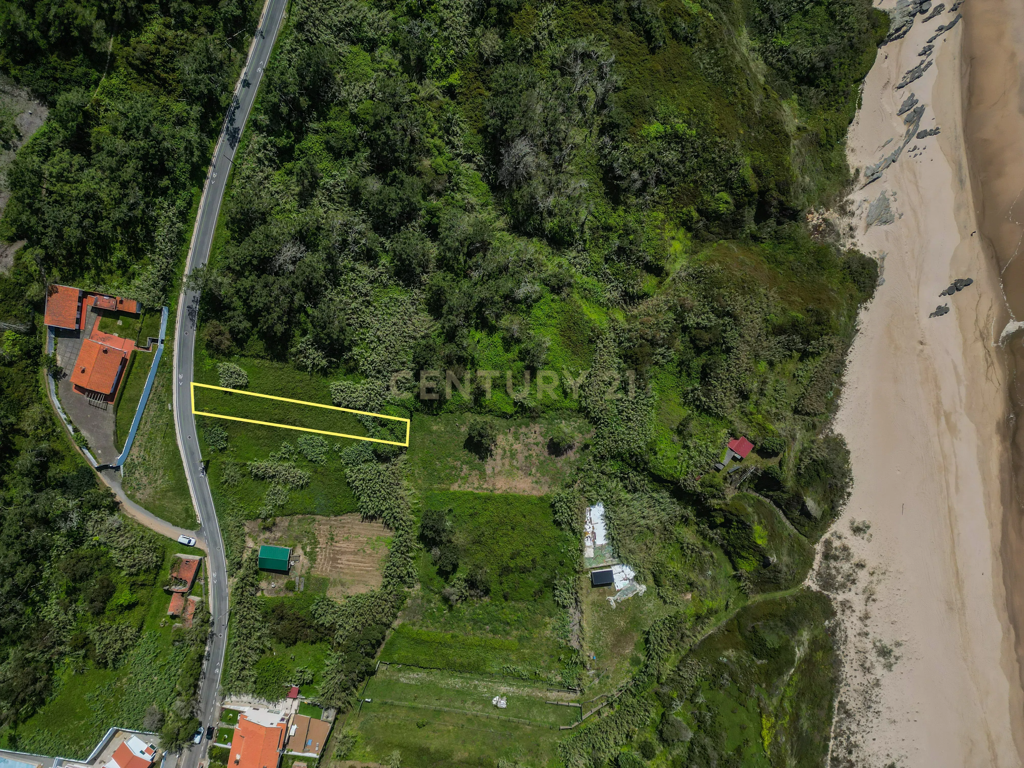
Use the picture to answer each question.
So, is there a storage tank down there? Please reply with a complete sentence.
No, the picture doesn't show any storage tank.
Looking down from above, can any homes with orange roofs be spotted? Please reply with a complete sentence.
Yes, there is a home with an orange roof in the image.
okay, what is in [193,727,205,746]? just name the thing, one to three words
vehicle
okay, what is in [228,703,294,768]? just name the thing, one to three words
house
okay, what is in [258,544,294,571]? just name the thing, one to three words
shed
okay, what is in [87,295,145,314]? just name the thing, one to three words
building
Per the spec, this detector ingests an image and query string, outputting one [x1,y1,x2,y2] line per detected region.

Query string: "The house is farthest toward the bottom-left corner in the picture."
[103,733,161,768]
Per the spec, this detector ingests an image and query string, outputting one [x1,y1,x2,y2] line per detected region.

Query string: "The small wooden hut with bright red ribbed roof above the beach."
[728,436,754,458]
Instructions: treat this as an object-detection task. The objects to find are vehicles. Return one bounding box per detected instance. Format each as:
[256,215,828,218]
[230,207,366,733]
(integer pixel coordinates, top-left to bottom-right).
[193,727,205,746]
[177,536,196,546]
[204,725,215,743]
